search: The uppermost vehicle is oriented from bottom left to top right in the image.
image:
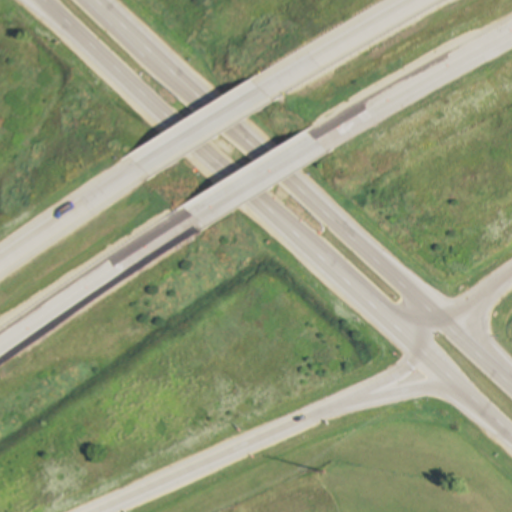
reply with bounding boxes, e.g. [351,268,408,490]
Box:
[54,201,74,217]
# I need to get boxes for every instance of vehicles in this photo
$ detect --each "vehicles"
[293,414,306,422]
[54,201,74,217]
